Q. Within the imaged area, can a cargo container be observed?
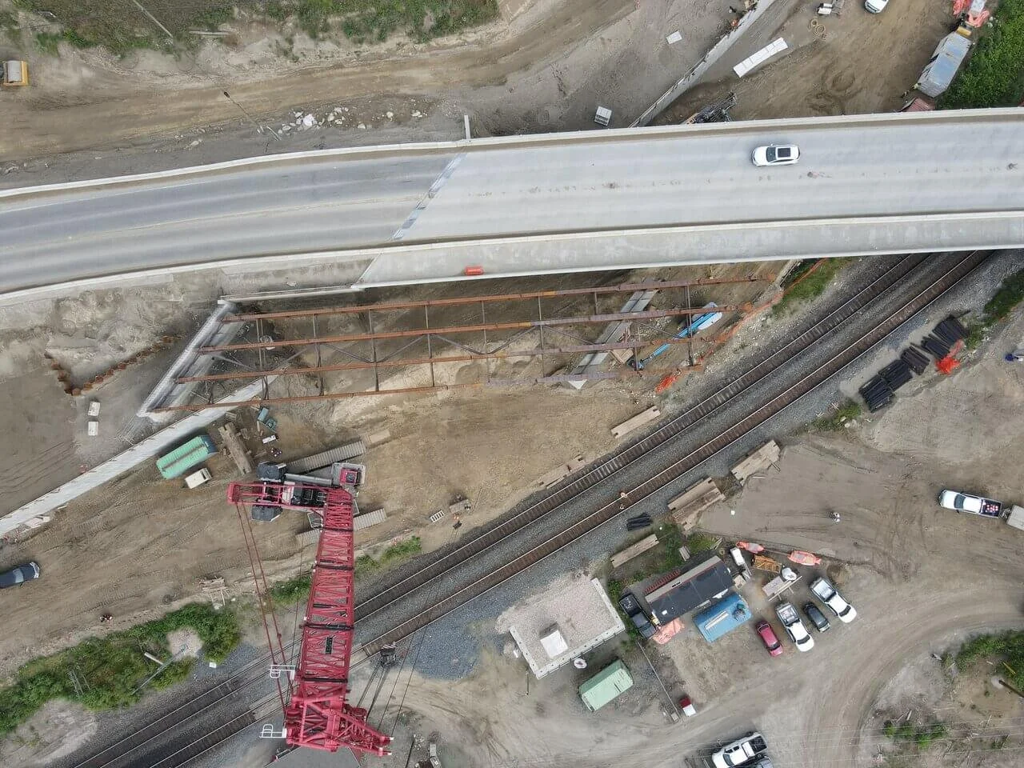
Yes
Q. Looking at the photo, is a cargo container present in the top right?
Yes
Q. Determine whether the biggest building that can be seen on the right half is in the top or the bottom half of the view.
bottom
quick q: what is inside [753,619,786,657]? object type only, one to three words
car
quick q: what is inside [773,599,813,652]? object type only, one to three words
truck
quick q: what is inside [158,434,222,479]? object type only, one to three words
shipping container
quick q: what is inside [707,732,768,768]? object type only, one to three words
truck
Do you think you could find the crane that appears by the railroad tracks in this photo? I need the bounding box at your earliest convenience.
[226,443,460,763]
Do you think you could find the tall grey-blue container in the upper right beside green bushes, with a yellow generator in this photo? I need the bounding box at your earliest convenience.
[907,35,972,100]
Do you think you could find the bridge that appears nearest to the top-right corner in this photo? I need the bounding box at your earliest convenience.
[355,108,1024,288]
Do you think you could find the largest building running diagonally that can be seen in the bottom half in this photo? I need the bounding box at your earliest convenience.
[637,552,732,630]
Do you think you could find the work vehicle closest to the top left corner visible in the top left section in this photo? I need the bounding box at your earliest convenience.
[0,61,31,88]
